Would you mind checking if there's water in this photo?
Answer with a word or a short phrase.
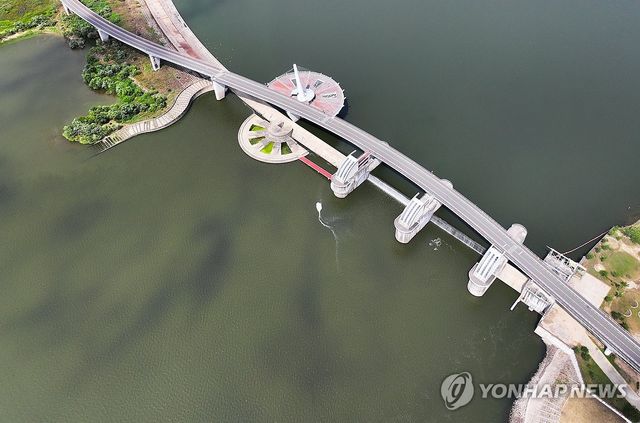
Yes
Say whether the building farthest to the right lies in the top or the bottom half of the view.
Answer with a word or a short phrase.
bottom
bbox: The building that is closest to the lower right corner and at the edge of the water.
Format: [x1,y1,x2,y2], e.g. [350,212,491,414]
[509,280,556,322]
